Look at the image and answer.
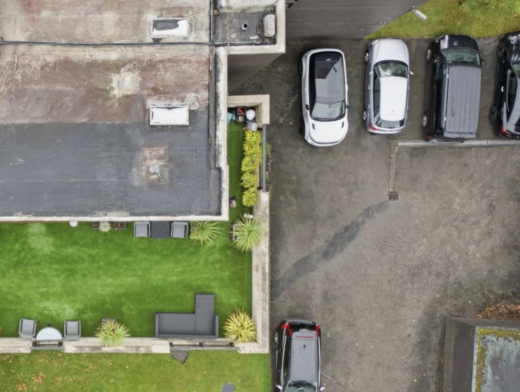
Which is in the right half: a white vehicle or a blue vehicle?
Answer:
white vehicle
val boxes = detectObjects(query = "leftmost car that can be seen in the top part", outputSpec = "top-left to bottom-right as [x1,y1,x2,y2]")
[298,49,353,149]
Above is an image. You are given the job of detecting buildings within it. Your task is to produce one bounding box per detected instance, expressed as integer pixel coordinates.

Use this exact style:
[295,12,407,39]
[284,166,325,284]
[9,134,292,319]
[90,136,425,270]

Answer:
[0,0,427,353]
[440,319,520,392]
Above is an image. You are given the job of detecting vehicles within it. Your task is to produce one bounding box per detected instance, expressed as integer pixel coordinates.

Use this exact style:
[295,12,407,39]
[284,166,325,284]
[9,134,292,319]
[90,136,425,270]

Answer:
[420,36,483,143]
[484,31,520,140]
[298,49,353,149]
[358,39,414,136]
[273,318,325,392]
